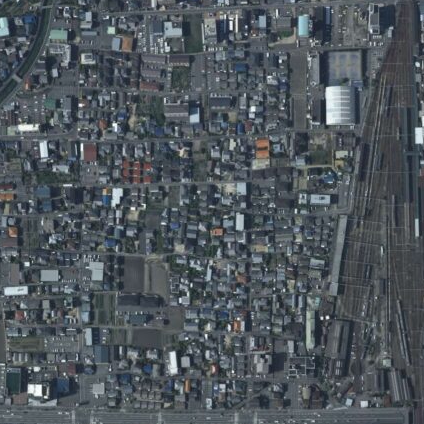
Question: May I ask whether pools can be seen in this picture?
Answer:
No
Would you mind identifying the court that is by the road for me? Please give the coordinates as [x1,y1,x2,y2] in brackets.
[327,50,362,83]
